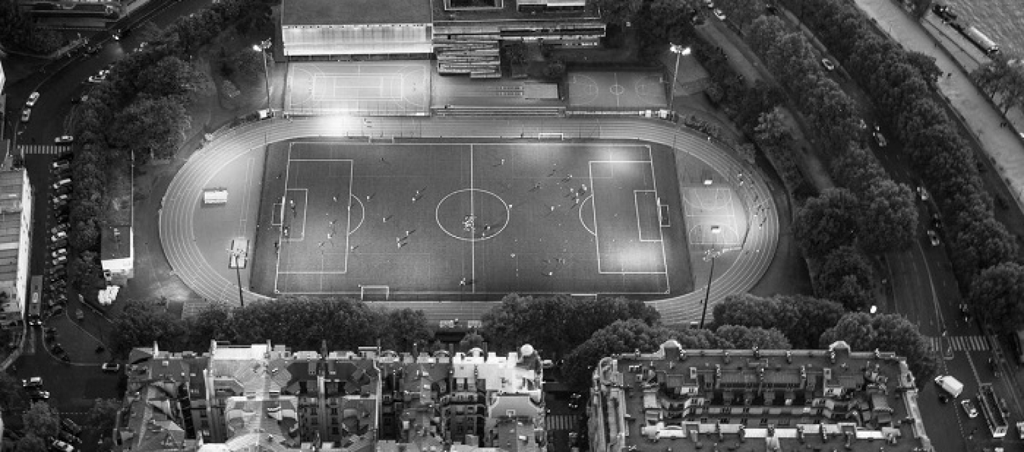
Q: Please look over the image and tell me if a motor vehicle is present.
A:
Yes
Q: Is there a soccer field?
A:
Yes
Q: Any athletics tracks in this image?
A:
Yes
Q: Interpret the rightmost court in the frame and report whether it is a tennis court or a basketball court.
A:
basketball court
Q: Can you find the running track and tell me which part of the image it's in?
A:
center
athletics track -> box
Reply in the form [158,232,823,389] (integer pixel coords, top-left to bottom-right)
[160,116,780,326]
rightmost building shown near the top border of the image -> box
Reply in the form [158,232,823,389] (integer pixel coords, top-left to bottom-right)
[433,0,613,81]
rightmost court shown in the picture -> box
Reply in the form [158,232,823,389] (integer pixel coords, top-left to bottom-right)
[684,187,743,244]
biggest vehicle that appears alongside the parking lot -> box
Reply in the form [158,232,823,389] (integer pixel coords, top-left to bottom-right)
[27,270,45,326]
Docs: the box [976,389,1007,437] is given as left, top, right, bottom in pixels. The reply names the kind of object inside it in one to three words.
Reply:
bus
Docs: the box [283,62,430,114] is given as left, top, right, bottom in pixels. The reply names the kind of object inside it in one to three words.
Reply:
sports court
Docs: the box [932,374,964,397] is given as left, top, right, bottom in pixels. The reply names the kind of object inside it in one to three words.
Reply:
truck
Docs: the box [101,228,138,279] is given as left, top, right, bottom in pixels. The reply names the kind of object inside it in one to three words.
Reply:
building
